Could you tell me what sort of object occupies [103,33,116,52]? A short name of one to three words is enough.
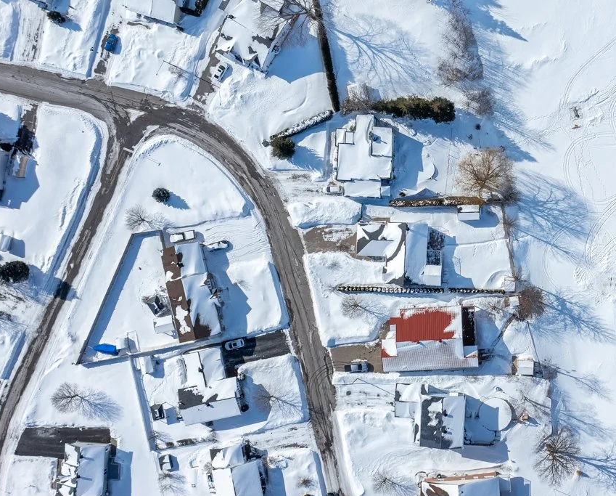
vehicle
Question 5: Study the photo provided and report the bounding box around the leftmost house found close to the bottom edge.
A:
[53,437,124,496]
